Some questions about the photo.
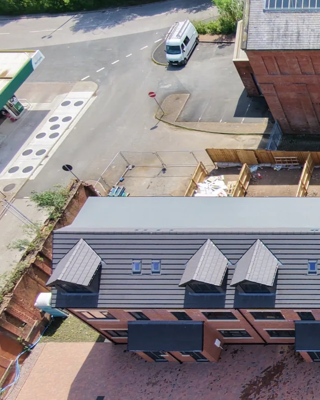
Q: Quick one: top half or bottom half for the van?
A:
top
